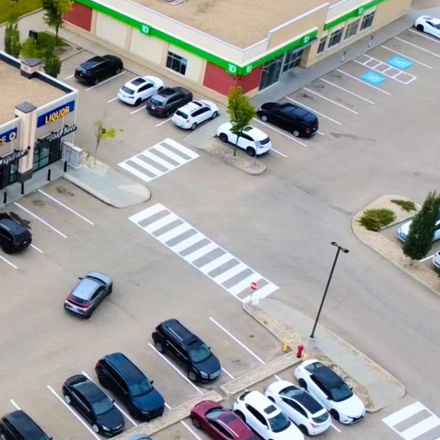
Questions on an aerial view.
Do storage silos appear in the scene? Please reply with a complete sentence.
No, the scene contains no storage silo.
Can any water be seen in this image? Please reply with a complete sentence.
No, the picture contains no water.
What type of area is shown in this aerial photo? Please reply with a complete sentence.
This looks like a parking lot.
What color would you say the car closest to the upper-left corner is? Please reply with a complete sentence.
The color of the car closest to the upper-left corner is black.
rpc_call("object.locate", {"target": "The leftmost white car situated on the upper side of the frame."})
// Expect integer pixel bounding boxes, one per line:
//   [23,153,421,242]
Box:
[118,76,162,104]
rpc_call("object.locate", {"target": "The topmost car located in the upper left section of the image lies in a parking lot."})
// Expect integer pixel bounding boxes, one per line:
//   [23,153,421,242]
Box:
[76,55,122,84]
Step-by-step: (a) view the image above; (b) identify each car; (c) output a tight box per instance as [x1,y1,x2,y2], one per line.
[62,376,127,437]
[0,412,49,440]
[391,204,435,241]
[174,98,219,128]
[191,403,260,440]
[266,379,337,438]
[76,55,122,84]
[99,359,163,420]
[155,324,221,381]
[416,16,440,37]
[67,273,115,318]
[259,102,317,137]
[299,364,369,425]
[118,76,162,104]
[143,87,189,117]
[0,212,30,252]
[231,389,300,440]
[427,244,440,271]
